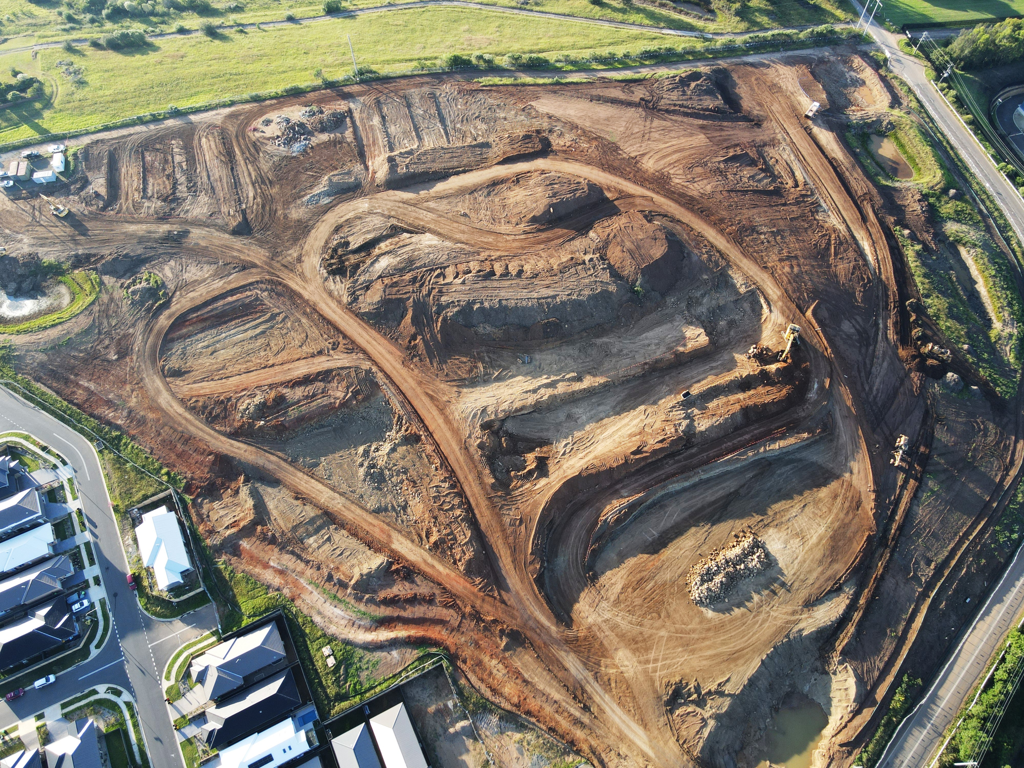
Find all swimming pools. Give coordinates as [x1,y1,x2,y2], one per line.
[293,706,318,735]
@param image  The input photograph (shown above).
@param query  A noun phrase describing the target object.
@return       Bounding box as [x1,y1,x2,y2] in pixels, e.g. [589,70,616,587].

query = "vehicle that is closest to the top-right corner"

[806,96,821,117]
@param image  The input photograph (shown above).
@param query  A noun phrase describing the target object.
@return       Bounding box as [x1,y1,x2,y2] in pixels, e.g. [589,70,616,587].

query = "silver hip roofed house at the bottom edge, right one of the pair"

[369,703,428,768]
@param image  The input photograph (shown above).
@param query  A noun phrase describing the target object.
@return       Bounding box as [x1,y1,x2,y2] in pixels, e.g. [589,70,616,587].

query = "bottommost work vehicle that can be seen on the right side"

[892,435,910,468]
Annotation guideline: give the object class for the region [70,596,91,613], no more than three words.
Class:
car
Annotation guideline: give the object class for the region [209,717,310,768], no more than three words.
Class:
house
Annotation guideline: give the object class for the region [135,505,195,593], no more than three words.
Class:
house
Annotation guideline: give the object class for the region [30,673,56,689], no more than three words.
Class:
car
